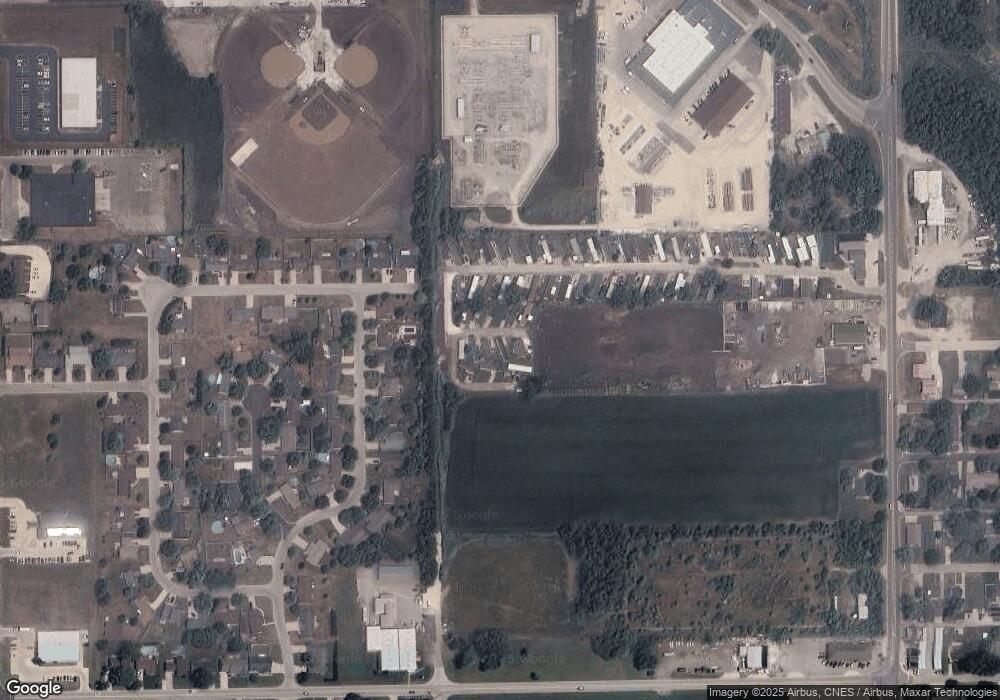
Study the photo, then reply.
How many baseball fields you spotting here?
3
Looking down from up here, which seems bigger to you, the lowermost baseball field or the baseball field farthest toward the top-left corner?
the lowermost baseball field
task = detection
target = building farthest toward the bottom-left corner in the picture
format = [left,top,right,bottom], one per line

[37,632,79,664]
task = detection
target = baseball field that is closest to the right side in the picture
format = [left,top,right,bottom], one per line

[331,9,416,125]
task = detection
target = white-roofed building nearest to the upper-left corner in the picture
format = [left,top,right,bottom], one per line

[62,58,97,127]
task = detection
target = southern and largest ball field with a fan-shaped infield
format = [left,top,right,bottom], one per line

[237,85,403,226]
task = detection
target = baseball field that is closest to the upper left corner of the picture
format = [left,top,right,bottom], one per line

[221,6,309,127]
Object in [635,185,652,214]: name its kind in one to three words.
shed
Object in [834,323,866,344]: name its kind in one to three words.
building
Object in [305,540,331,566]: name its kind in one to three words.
house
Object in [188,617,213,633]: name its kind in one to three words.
house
